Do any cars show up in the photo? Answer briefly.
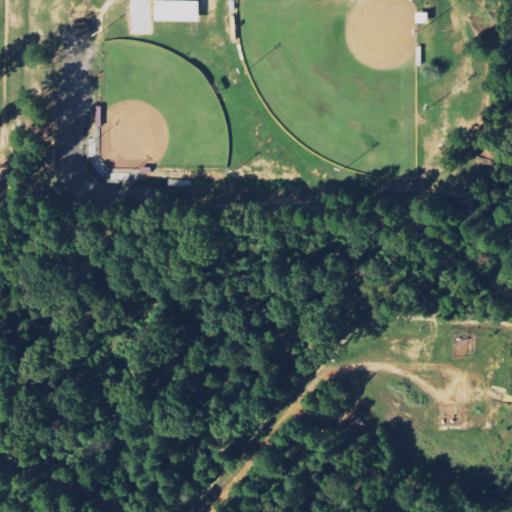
No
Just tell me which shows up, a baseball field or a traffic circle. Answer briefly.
baseball field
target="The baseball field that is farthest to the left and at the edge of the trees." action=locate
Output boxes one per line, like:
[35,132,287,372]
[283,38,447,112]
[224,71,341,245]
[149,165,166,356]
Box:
[100,37,229,168]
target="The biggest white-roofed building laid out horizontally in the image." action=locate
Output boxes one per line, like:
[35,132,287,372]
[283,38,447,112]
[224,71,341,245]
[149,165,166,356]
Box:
[154,0,199,22]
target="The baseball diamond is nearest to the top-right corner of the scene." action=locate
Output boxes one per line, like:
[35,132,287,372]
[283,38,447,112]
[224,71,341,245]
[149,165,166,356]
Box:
[237,0,416,179]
